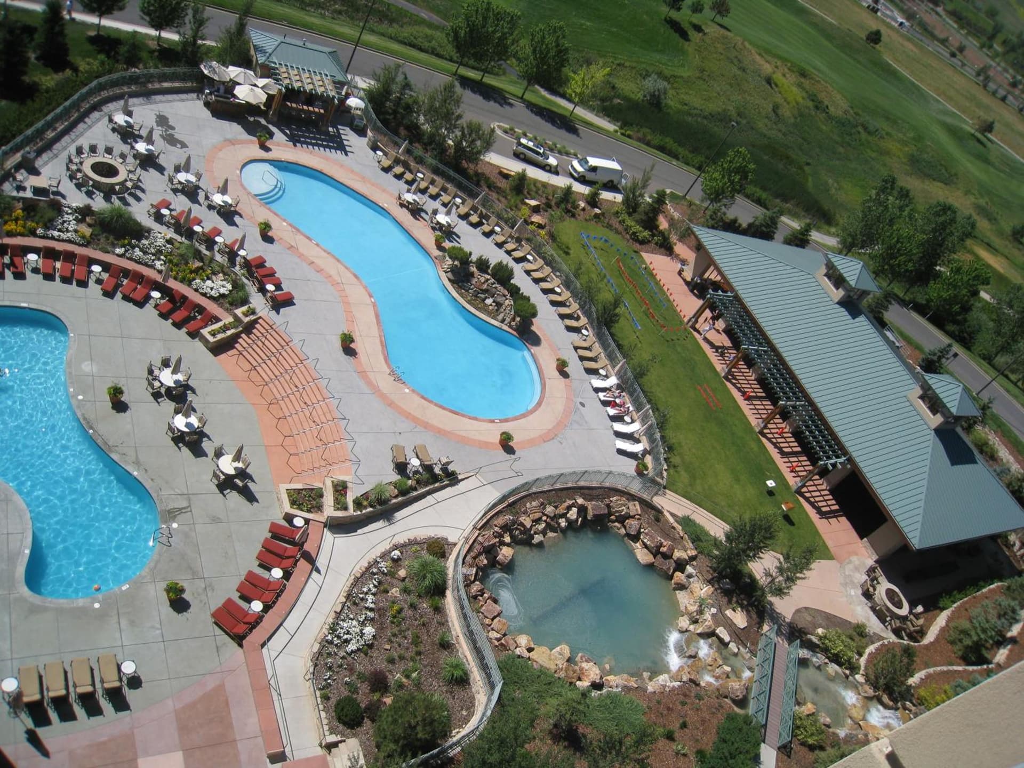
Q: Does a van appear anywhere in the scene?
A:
Yes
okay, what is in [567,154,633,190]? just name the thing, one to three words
van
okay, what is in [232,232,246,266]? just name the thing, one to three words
umbrella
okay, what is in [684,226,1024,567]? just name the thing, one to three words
building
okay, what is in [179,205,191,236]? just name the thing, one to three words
umbrella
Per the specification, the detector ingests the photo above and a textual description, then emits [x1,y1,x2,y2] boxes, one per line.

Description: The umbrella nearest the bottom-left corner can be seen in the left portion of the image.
[7,686,24,724]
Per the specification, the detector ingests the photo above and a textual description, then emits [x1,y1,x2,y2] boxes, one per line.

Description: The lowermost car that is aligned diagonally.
[513,135,558,170]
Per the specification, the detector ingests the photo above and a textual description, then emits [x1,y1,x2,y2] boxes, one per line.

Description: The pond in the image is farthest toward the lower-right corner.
[478,516,688,691]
